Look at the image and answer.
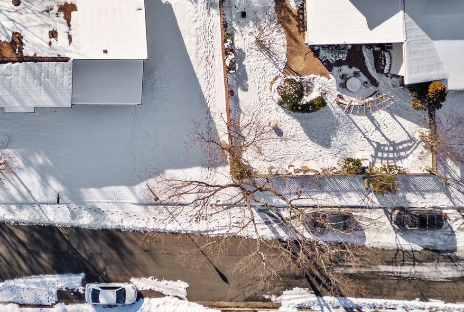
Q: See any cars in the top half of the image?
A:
No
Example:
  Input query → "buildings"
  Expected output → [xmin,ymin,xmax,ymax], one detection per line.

[0,0,148,113]
[295,0,464,91]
